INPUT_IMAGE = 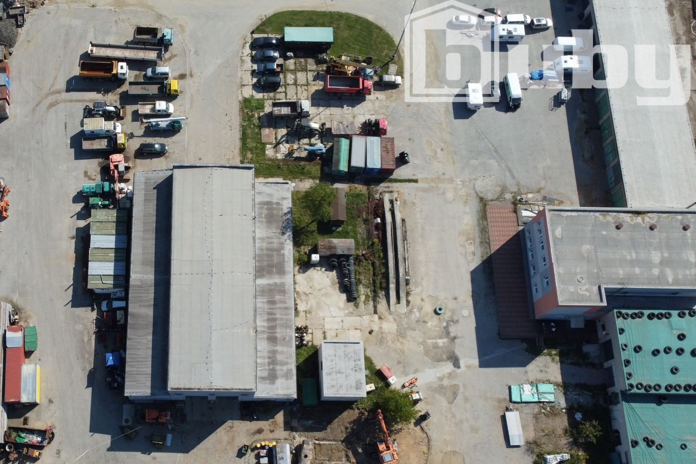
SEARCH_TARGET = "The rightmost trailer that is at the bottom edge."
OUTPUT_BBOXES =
[502,402,526,450]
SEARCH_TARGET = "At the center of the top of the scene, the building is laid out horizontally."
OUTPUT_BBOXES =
[283,28,333,51]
